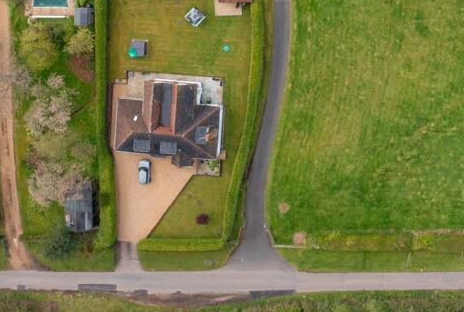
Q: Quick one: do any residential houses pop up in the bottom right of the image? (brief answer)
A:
No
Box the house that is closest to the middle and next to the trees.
[113,78,228,168]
